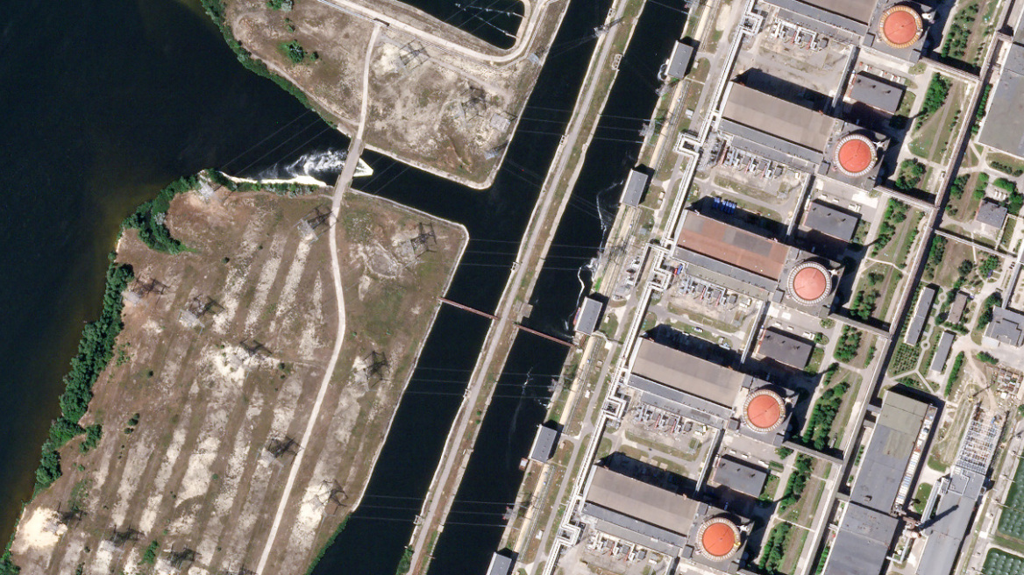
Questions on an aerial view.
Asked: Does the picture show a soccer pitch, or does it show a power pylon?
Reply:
power pylon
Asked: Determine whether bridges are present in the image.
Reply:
Yes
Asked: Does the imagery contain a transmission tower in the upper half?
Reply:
Yes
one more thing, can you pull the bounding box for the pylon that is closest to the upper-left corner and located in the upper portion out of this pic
[201,181,222,206]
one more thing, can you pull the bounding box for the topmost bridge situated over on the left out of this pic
[332,138,364,199]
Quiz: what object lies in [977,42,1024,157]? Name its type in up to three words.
shed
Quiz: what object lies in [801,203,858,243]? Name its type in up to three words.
building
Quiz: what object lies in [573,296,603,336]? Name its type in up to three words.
building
